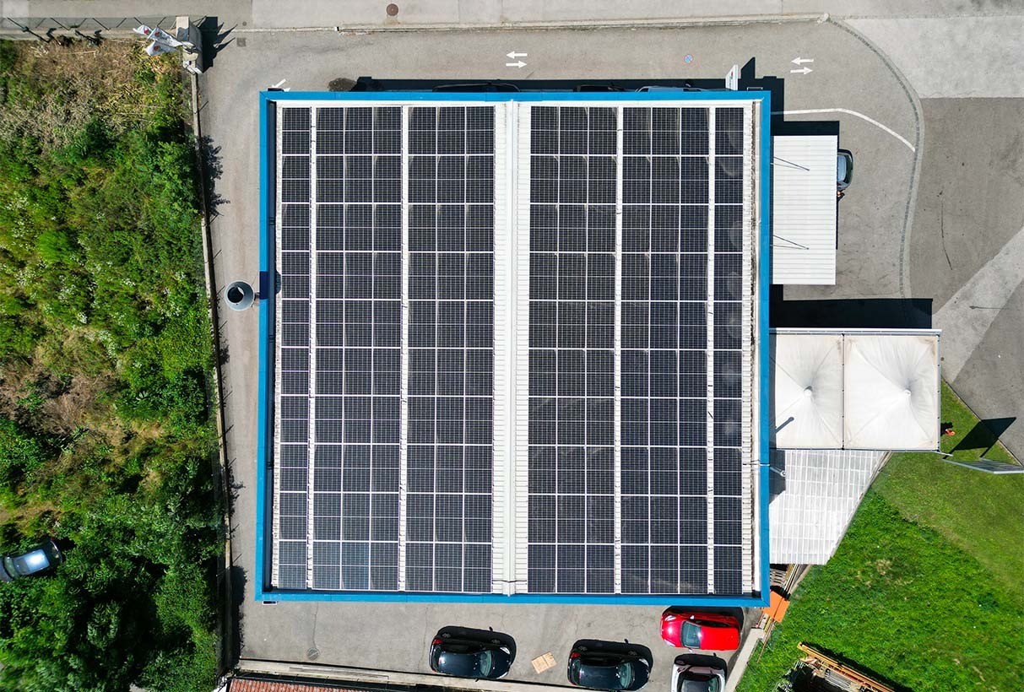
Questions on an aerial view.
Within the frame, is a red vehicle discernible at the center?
No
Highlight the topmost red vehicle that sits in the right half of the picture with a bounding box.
[658,607,743,656]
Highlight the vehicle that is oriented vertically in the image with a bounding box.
[837,153,854,189]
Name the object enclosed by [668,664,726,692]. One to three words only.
car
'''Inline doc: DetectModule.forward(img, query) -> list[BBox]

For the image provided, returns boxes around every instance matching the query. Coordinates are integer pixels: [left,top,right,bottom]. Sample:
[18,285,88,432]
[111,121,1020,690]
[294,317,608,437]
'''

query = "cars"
[429,634,512,686]
[638,79,720,91]
[0,533,69,590]
[837,153,854,189]
[568,646,651,692]
[565,81,638,91]
[668,664,726,692]
[658,607,743,656]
